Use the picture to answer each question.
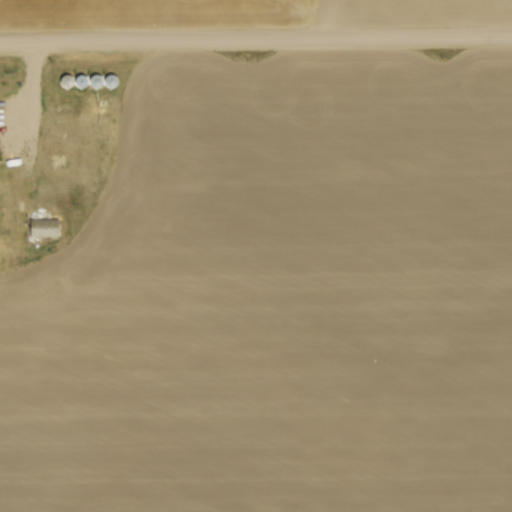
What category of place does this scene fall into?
farmland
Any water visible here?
No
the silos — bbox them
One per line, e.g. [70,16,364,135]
[60,75,74,91]
[104,75,119,91]
[75,75,90,90]
[90,75,104,90]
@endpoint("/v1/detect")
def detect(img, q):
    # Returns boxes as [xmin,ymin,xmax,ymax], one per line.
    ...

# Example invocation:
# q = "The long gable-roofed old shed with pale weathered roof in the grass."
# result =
[30,219,60,240]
